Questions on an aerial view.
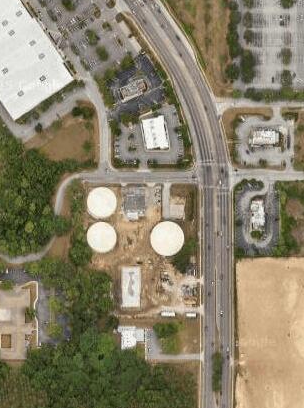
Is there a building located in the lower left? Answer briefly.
Yes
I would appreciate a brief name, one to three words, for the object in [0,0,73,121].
building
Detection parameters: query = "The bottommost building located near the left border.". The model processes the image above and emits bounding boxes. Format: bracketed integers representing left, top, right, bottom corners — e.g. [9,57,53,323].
[0,289,33,359]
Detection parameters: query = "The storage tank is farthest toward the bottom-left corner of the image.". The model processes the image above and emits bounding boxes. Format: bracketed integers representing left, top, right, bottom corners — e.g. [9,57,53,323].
[87,222,117,253]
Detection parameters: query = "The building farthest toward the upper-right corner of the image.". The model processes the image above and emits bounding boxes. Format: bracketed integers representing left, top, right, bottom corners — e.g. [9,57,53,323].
[253,130,277,145]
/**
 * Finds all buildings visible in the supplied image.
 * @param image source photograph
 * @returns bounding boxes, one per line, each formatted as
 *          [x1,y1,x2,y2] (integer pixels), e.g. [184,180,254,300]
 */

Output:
[170,205,185,219]
[142,115,169,149]
[118,326,145,348]
[0,289,33,359]
[120,79,148,102]
[121,266,141,307]
[127,194,145,212]
[0,0,73,121]
[250,201,266,227]
[253,130,277,145]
